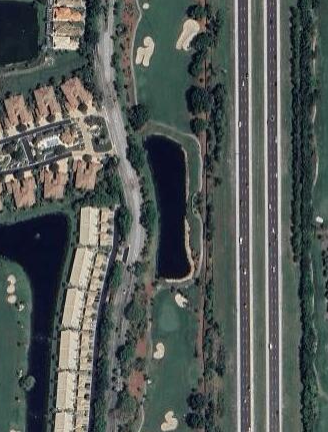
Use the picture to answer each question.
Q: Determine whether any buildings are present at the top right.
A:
No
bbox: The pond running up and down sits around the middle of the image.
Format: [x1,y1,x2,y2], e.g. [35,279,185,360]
[145,133,190,280]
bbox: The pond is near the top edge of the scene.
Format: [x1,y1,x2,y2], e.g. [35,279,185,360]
[0,0,38,66]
